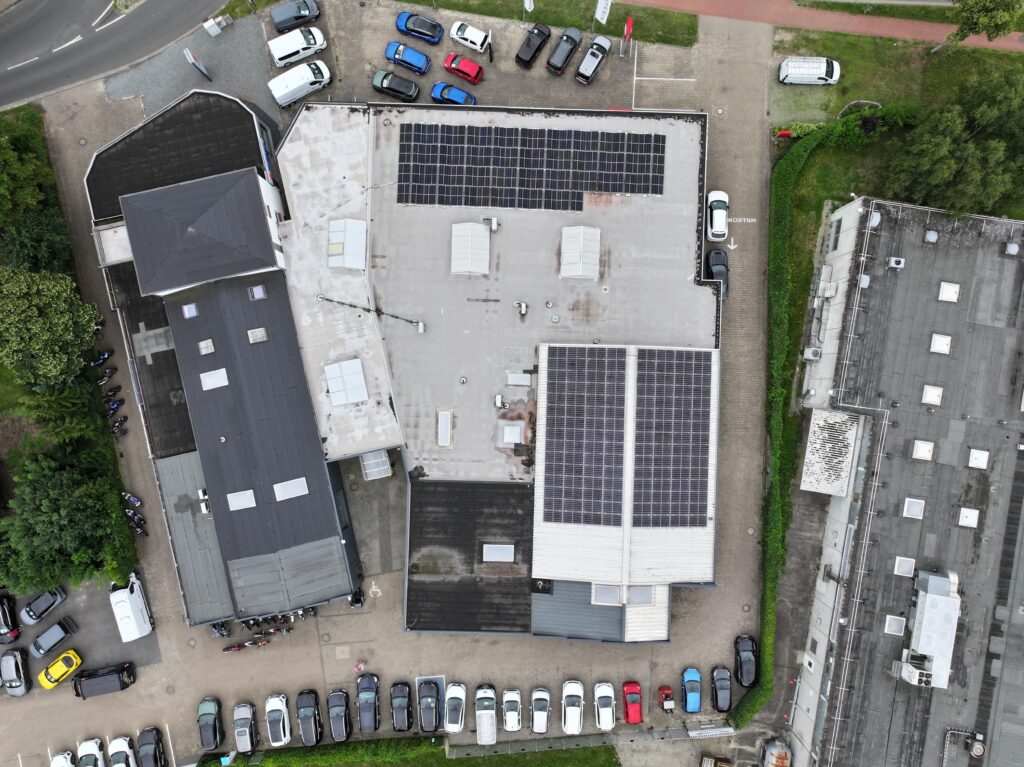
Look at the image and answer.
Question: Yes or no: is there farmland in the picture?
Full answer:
No, there is no farmland in the image.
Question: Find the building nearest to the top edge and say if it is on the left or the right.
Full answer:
The building nearest to the top edge is on the left side of the image.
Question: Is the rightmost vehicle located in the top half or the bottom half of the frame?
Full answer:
It is in the top half that the rightmost vehicle appears.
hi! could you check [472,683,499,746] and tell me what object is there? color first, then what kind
white vehicle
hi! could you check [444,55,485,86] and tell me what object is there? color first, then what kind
red car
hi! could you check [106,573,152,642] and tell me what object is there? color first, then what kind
white vehicle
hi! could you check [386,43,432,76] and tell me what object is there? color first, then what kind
blue car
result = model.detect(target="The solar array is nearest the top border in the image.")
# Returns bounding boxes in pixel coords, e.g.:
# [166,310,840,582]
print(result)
[397,121,665,213]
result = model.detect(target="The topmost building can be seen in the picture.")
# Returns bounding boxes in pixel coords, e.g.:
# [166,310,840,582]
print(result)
[85,90,288,226]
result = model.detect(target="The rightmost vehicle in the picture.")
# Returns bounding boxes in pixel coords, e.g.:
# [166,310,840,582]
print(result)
[778,54,838,85]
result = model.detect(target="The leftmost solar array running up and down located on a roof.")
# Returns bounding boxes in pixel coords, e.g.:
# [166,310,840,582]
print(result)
[544,347,626,525]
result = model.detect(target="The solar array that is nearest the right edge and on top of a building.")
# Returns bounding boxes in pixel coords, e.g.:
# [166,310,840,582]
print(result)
[633,349,712,527]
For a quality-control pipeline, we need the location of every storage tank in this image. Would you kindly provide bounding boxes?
[759,733,793,767]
